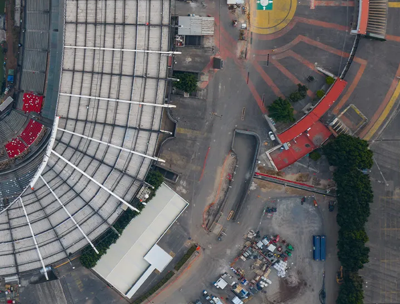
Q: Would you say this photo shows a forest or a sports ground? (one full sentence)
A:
The area seen from above is a sports ground.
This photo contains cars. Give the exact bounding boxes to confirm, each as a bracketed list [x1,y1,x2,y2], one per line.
[268,131,276,141]
[233,19,238,28]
